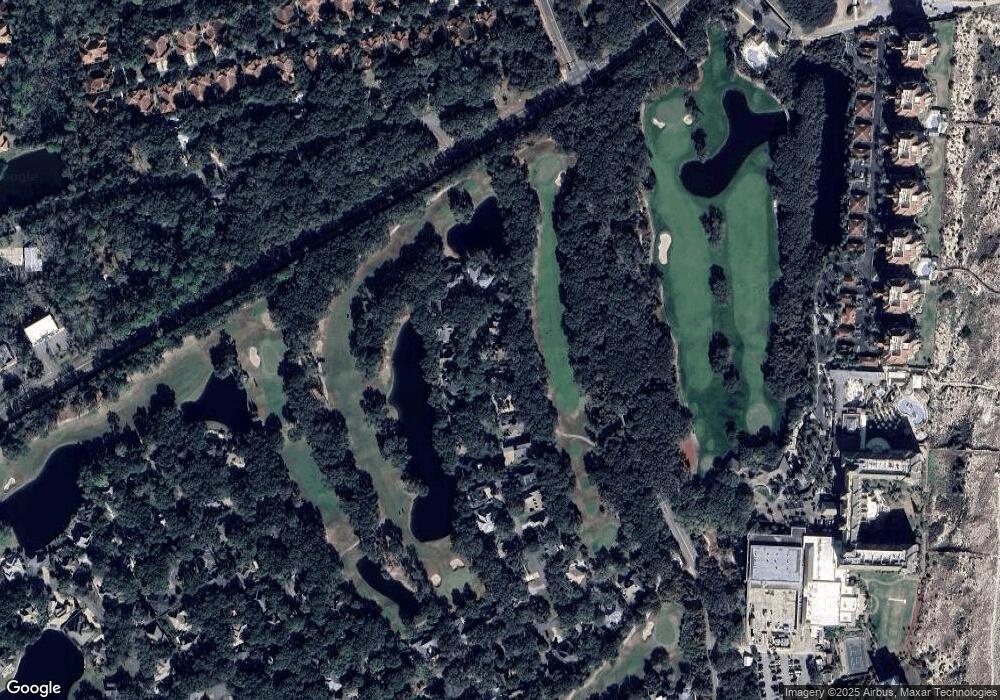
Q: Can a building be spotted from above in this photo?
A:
Yes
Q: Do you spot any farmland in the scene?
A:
No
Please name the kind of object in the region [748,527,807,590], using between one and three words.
building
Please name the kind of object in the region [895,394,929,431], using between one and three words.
swimming pool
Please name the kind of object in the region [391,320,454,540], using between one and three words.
pond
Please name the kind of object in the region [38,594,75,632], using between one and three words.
house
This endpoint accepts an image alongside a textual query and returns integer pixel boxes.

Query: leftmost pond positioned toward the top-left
[0,149,67,214]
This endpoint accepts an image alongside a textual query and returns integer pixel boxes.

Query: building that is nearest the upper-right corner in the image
[892,31,941,68]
